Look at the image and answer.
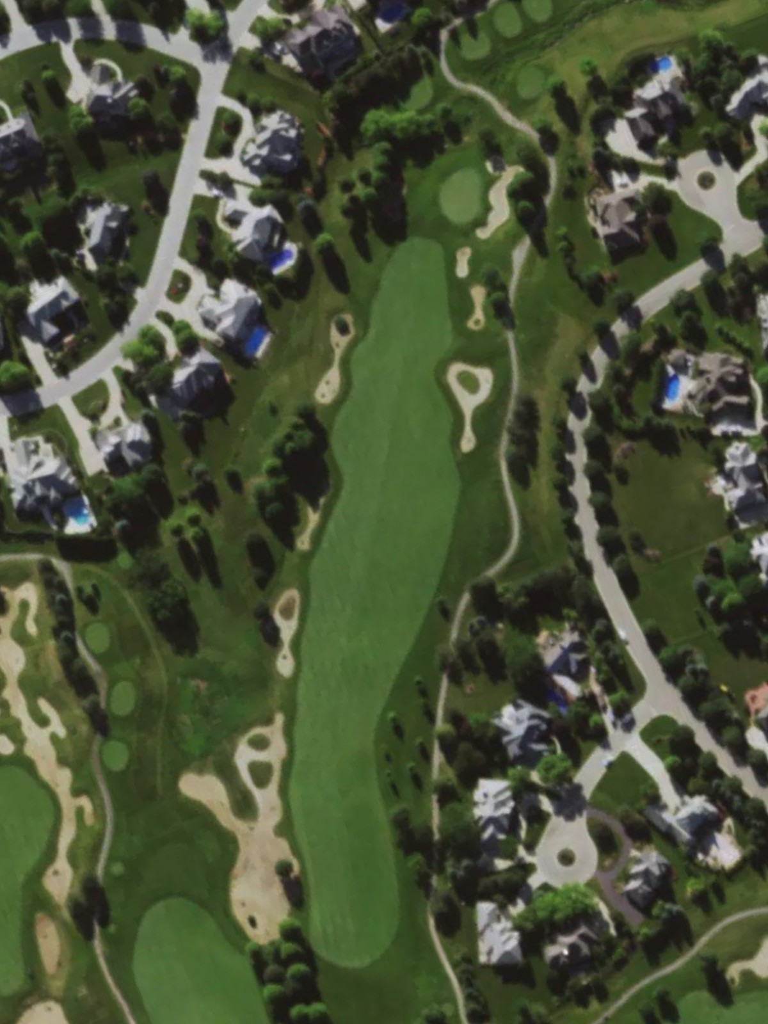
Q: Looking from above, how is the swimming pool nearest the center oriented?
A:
diagonally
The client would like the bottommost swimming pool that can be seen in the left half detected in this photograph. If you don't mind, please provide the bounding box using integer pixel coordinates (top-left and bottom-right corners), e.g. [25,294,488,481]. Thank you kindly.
[64,496,89,525]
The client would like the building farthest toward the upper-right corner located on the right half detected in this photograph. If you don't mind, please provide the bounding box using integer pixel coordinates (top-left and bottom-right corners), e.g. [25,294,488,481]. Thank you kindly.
[719,61,768,129]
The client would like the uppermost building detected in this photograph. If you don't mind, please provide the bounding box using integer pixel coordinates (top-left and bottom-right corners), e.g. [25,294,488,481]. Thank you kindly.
[284,2,367,83]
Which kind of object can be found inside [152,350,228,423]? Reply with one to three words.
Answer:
house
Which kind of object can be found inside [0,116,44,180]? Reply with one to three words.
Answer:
house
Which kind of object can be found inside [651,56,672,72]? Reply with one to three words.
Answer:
swimming pool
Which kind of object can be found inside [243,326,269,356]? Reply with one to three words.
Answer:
swimming pool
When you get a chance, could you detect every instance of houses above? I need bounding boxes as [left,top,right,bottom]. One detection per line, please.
[152,350,228,423]
[717,436,768,532]
[17,271,89,348]
[685,345,756,426]
[495,693,556,764]
[284,2,367,83]
[719,61,768,129]
[592,189,647,255]
[224,196,290,264]
[619,845,675,910]
[473,899,524,972]
[756,294,768,347]
[82,198,133,264]
[476,775,519,857]
[92,420,156,475]
[621,78,695,151]
[196,274,269,344]
[9,438,85,519]
[239,110,305,178]
[644,789,729,851]
[0,116,44,180]
[84,75,144,132]
[538,920,609,978]
[534,625,594,689]
[748,530,768,589]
